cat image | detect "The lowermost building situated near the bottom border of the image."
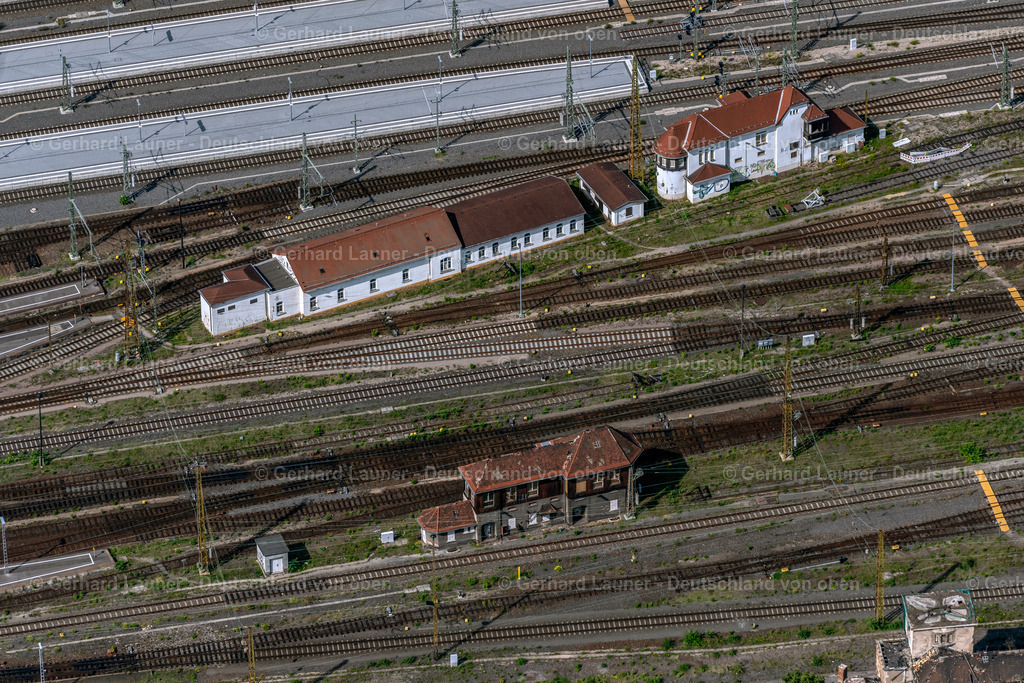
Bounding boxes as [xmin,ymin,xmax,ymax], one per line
[874,589,1024,683]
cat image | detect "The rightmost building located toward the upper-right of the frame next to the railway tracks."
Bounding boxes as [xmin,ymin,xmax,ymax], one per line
[651,83,871,204]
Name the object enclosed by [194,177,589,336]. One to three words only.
building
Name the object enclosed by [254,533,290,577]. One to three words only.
shed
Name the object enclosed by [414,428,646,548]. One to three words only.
building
